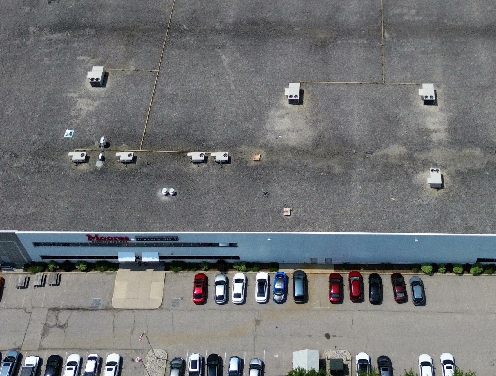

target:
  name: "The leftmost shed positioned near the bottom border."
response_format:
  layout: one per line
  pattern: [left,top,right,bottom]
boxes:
[298,353,325,374]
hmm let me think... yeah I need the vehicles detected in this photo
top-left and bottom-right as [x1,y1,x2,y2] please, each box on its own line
[249,357,264,376]
[349,272,364,302]
[255,273,268,304]
[187,351,203,376]
[356,351,370,376]
[45,354,62,376]
[105,353,121,376]
[193,273,207,305]
[410,277,426,306]
[391,273,408,305]
[418,353,435,376]
[368,273,382,305]
[0,351,22,376]
[214,274,228,305]
[328,273,343,305]
[292,271,307,305]
[83,352,101,376]
[206,353,221,376]
[228,354,242,376]
[65,353,83,376]
[377,353,393,376]
[232,273,246,305]
[273,273,287,302]
[20,353,41,376]
[439,352,455,376]
[170,357,186,376]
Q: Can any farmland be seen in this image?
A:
No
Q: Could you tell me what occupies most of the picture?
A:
buildings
